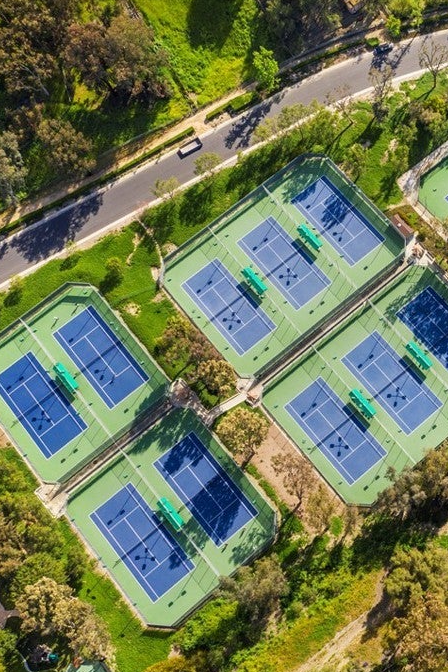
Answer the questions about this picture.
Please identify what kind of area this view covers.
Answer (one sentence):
It's a sports ground.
